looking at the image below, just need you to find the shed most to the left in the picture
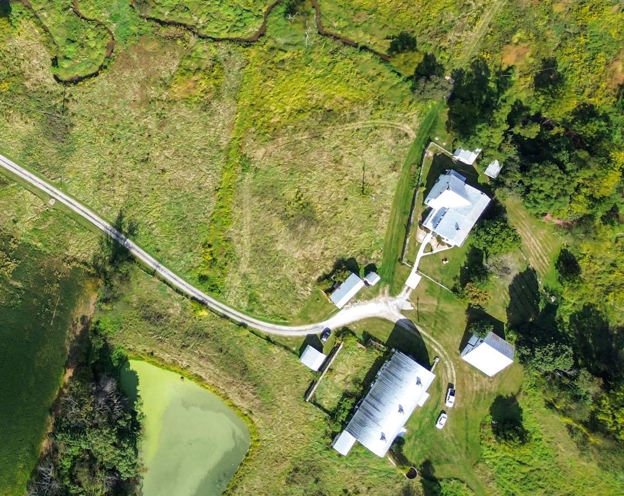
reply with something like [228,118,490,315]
[298,343,325,370]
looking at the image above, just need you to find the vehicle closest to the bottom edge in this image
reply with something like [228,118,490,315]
[435,411,450,433]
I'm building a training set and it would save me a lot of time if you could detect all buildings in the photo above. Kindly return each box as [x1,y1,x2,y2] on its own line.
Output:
[362,271,379,287]
[414,168,491,249]
[332,347,435,455]
[451,145,479,166]
[298,343,325,370]
[458,326,515,376]
[481,161,498,177]
[328,273,364,307]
